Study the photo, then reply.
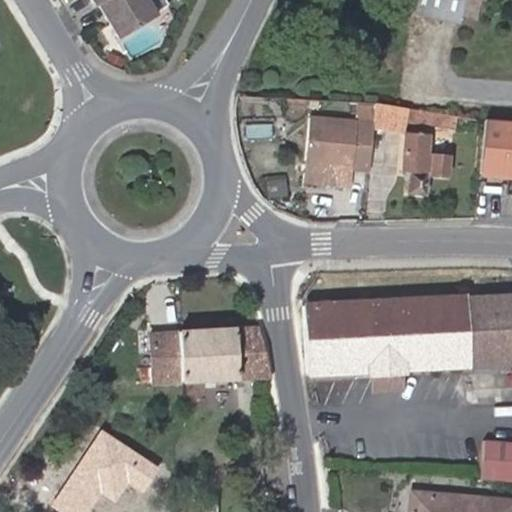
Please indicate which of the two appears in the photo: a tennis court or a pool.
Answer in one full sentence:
It is a pool that can be seen here.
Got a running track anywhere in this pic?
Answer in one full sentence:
No, no running track is visible in the view.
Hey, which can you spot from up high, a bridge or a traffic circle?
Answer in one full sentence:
The image shows a traffic circle.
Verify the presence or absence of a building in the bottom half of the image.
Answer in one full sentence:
Yes, a building can be seen in the bottom half of the image.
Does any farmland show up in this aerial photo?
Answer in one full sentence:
No, there is no farmland in the image.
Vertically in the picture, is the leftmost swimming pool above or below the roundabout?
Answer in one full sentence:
The leftmost swimming pool appears above the roundabout in the picture.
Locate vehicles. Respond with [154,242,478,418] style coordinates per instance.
[164,298,175,324]
[80,8,101,24]
[477,194,488,216]
[316,204,326,218]
[82,271,94,293]
[496,406,512,417]
[491,194,502,216]
[483,184,504,195]
[466,438,476,460]
[317,412,340,424]
[355,438,365,459]
[288,484,297,505]
[312,194,333,204]
[350,184,361,205]
[69,0,91,12]
[402,376,416,400]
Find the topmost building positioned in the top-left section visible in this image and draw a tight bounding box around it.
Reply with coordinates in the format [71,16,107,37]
[89,0,160,39]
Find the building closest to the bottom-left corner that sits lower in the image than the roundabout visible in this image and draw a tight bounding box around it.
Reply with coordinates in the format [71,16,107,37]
[46,430,159,512]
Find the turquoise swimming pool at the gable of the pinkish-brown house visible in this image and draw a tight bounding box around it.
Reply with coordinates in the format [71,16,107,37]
[124,25,166,58]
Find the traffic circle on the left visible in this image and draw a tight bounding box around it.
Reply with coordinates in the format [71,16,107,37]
[64,101,222,259]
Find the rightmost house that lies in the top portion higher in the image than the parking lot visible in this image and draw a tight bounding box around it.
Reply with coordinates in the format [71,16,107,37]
[482,118,512,184]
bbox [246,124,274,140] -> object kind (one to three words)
swimming pool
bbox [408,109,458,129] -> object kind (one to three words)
shed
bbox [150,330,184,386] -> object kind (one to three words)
house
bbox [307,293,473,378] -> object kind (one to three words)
building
